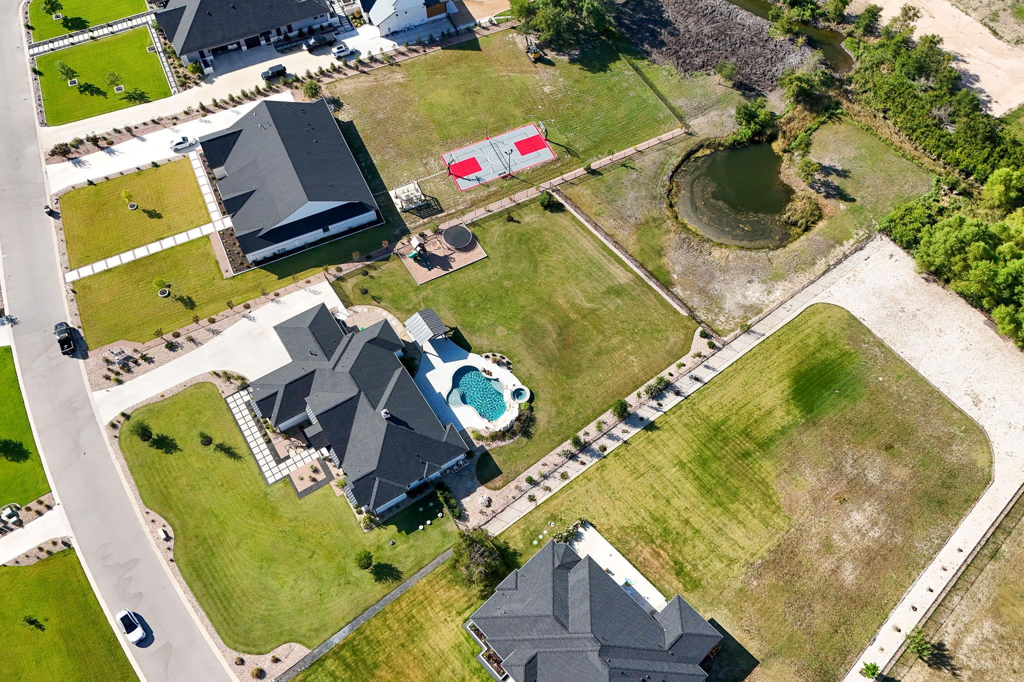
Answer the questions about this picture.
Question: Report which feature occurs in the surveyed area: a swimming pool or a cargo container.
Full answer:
I can see a swimming pool in this picture.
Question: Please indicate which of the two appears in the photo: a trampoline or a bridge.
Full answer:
It is a trampoline that can be seen here.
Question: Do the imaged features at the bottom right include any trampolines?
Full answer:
No, there is no trampoline at the bottom right.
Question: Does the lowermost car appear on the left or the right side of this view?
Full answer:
The lowermost car appears in the left half of the scene.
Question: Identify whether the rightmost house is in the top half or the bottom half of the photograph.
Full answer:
The bottom half of the photo is where the rightmost house is.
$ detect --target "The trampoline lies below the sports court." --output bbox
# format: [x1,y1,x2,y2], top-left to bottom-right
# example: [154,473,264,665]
[442,228,473,252]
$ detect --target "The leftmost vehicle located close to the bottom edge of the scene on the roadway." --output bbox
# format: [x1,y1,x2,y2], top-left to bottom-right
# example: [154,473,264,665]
[113,606,146,648]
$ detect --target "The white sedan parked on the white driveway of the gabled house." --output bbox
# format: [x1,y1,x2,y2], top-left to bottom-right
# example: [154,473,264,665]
[167,137,196,154]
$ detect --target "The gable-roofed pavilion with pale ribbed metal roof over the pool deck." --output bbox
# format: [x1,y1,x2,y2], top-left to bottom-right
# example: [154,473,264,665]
[404,308,449,353]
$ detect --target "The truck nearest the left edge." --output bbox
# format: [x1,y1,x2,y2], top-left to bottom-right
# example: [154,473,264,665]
[50,323,77,360]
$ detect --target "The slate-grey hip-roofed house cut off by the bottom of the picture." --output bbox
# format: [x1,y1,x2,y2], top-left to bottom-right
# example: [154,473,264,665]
[469,540,723,682]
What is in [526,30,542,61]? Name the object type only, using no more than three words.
work vehicle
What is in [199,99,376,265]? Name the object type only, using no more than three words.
house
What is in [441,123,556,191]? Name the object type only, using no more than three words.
sports court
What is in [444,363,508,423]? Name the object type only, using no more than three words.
swimming pool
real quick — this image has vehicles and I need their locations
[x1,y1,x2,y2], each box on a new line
[260,62,284,81]
[167,137,196,154]
[113,606,146,648]
[526,30,542,61]
[303,32,335,51]
[50,323,77,360]
[330,43,356,58]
